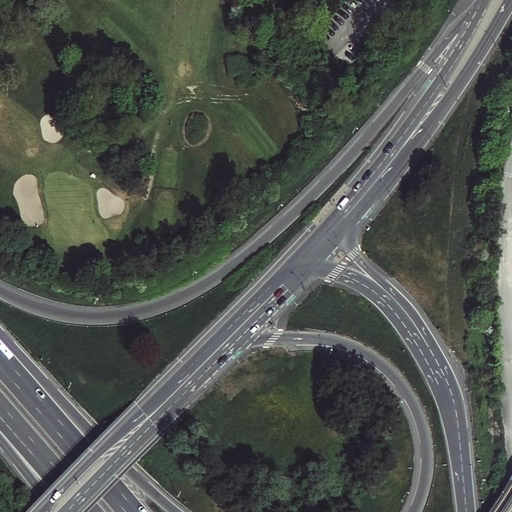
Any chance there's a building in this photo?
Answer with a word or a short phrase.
No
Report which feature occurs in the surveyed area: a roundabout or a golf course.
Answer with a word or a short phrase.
golf course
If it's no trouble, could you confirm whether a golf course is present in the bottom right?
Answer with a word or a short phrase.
No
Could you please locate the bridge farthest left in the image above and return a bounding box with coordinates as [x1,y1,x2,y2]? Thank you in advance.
[25,376,160,512]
